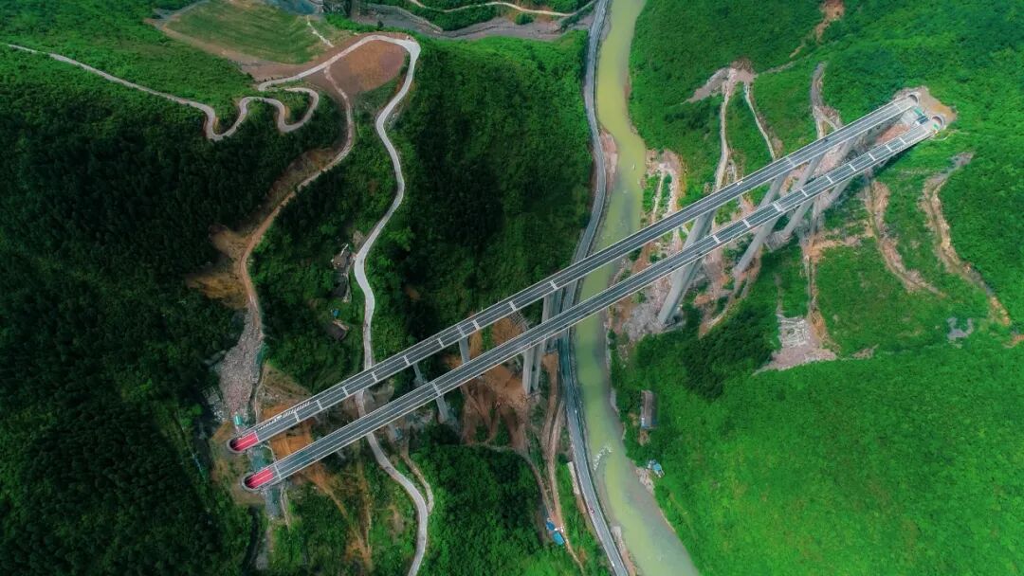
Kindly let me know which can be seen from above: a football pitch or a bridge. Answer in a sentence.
Of the two, only a bridge appears.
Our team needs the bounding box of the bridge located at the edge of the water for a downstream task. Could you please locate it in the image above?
[249,117,944,490]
